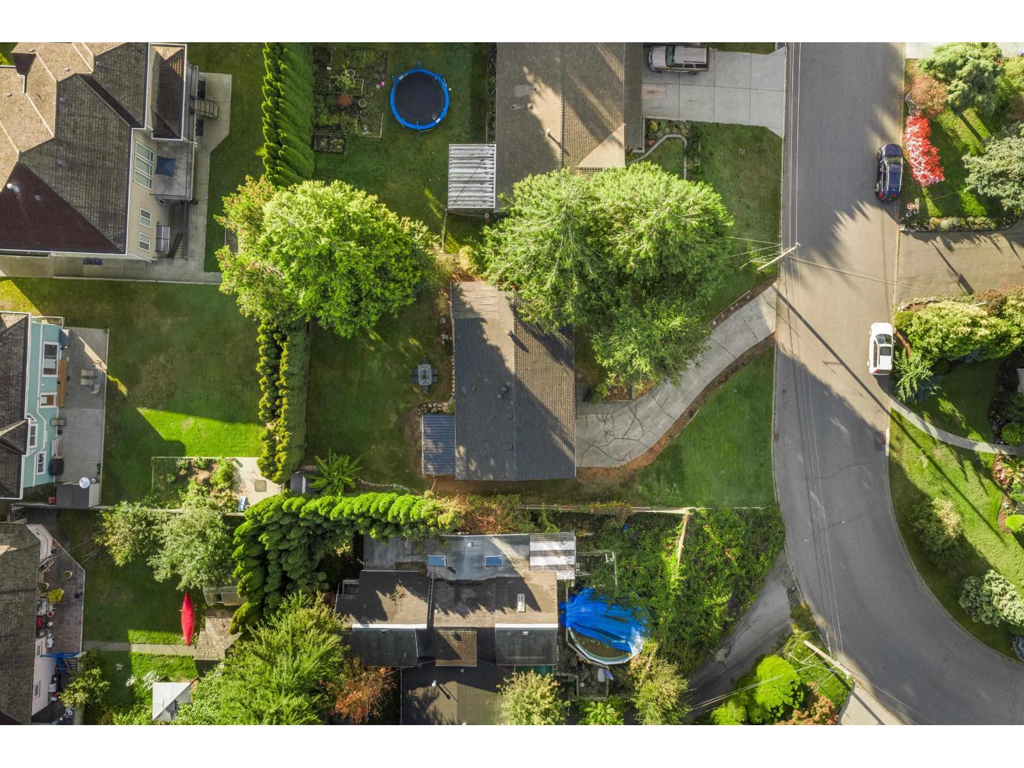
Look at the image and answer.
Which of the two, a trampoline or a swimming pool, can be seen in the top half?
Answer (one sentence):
Looking in the top half, you will find a trampoline.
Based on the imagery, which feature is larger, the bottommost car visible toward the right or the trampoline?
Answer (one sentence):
Compared with the car, the trampoline is the larger one.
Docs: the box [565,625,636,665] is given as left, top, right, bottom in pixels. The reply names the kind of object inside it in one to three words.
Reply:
swimming pool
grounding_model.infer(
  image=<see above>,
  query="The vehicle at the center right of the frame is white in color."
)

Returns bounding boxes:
[867,322,897,376]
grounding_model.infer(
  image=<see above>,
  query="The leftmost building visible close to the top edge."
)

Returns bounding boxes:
[0,19,218,259]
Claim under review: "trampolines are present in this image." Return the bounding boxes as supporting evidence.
[390,62,450,132]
